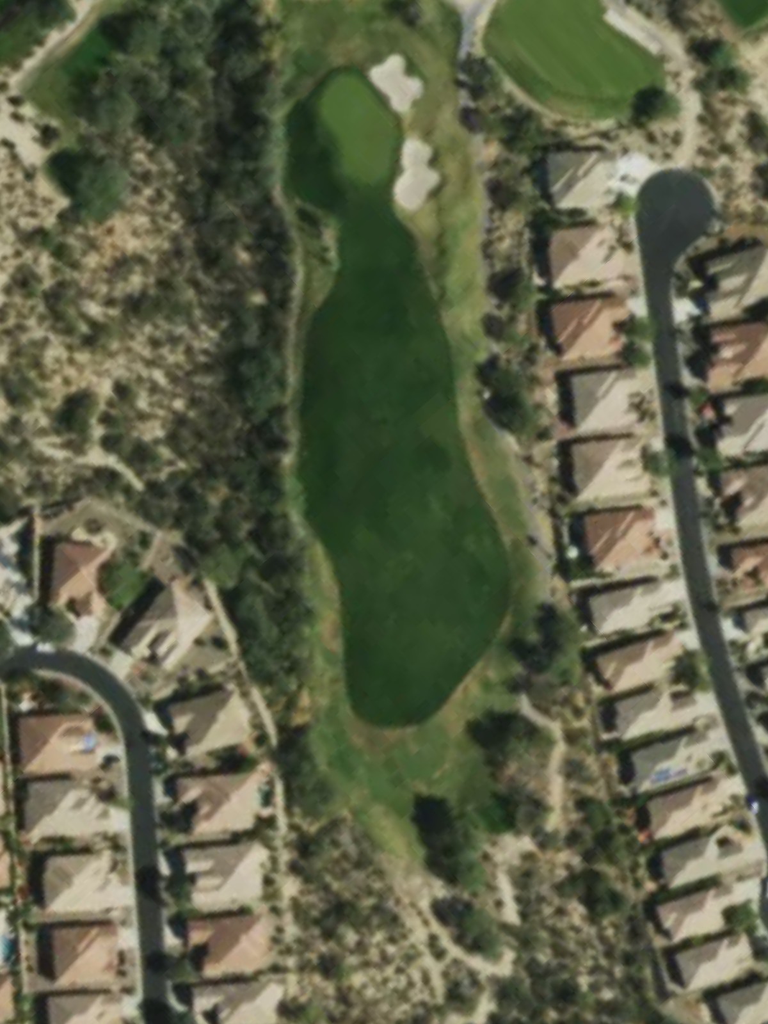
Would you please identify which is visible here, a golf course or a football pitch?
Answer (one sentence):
Visible in the photo is a golf course.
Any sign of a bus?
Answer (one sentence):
No, there isn't any bus down there.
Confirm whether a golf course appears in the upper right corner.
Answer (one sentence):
Yes, the scene does show a golf course in the upper right corner.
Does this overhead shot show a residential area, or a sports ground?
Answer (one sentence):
It's a residential area.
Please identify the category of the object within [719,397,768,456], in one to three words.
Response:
house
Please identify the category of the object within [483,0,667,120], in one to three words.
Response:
golf course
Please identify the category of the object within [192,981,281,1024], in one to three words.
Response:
house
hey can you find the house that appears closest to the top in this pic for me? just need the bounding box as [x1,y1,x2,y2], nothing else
[546,152,615,213]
